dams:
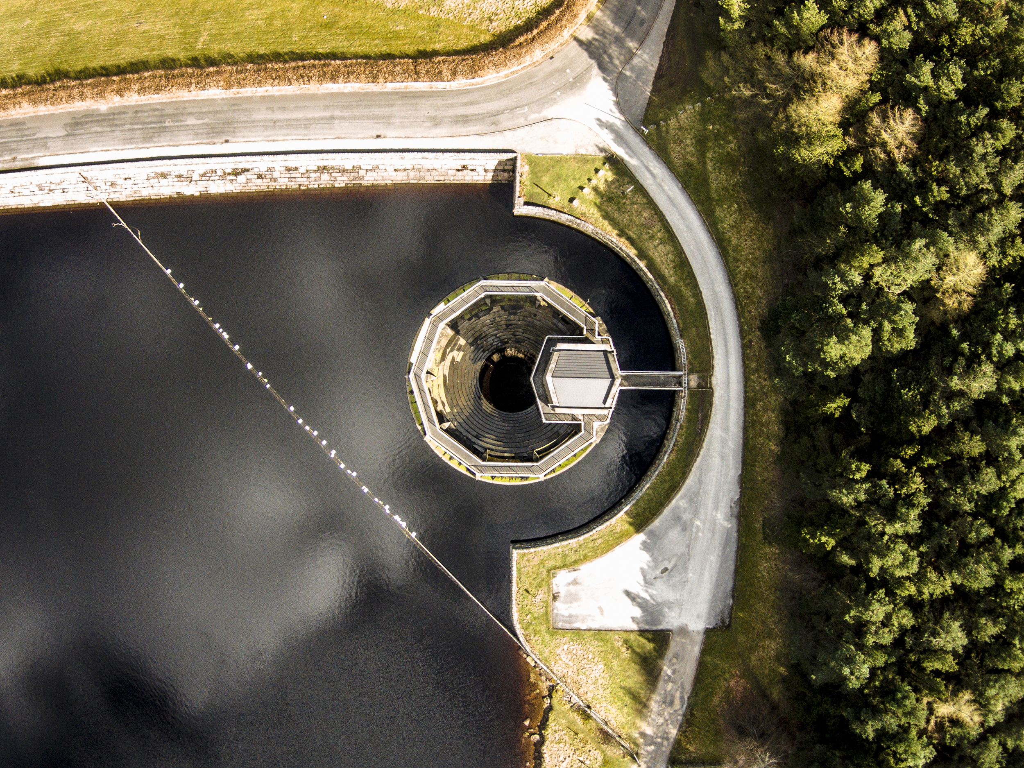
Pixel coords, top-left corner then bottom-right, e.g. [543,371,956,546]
[0,150,518,230]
